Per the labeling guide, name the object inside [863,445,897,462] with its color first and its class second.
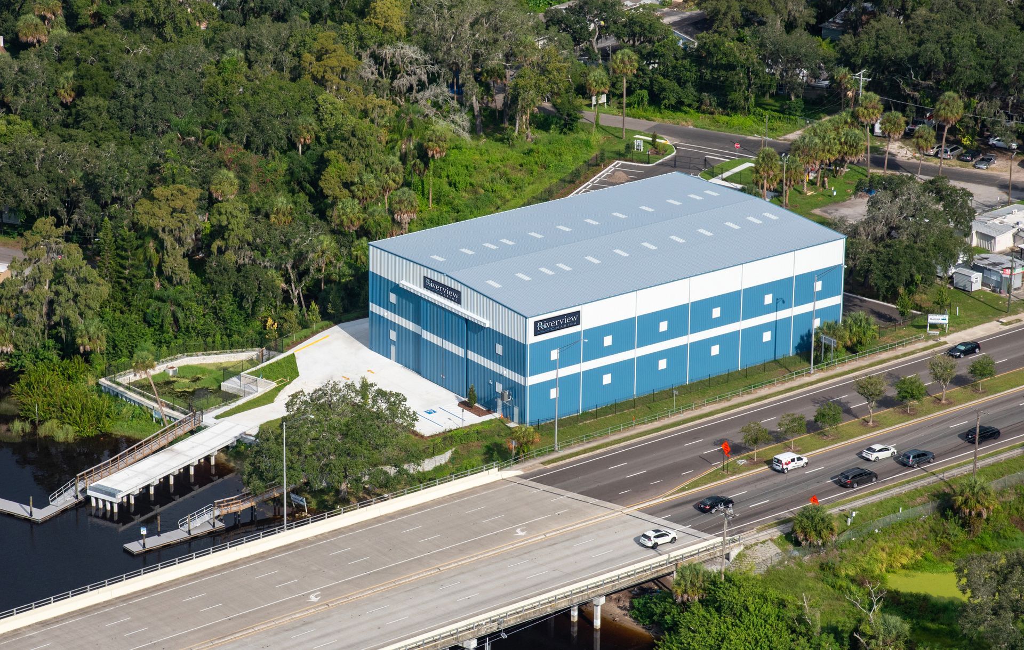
white car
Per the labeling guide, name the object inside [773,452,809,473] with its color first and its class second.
white vehicle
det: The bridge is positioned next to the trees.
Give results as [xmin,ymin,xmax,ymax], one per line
[0,467,751,650]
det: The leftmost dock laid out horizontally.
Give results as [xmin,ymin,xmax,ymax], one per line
[0,491,89,526]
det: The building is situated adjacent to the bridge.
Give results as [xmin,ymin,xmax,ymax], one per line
[365,170,846,428]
